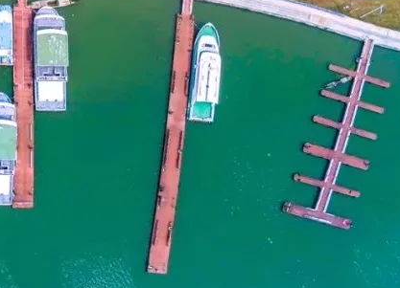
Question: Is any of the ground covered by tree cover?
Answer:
No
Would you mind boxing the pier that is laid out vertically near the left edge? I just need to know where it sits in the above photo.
[12,0,34,208]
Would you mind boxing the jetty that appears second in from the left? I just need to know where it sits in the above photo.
[147,0,195,273]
